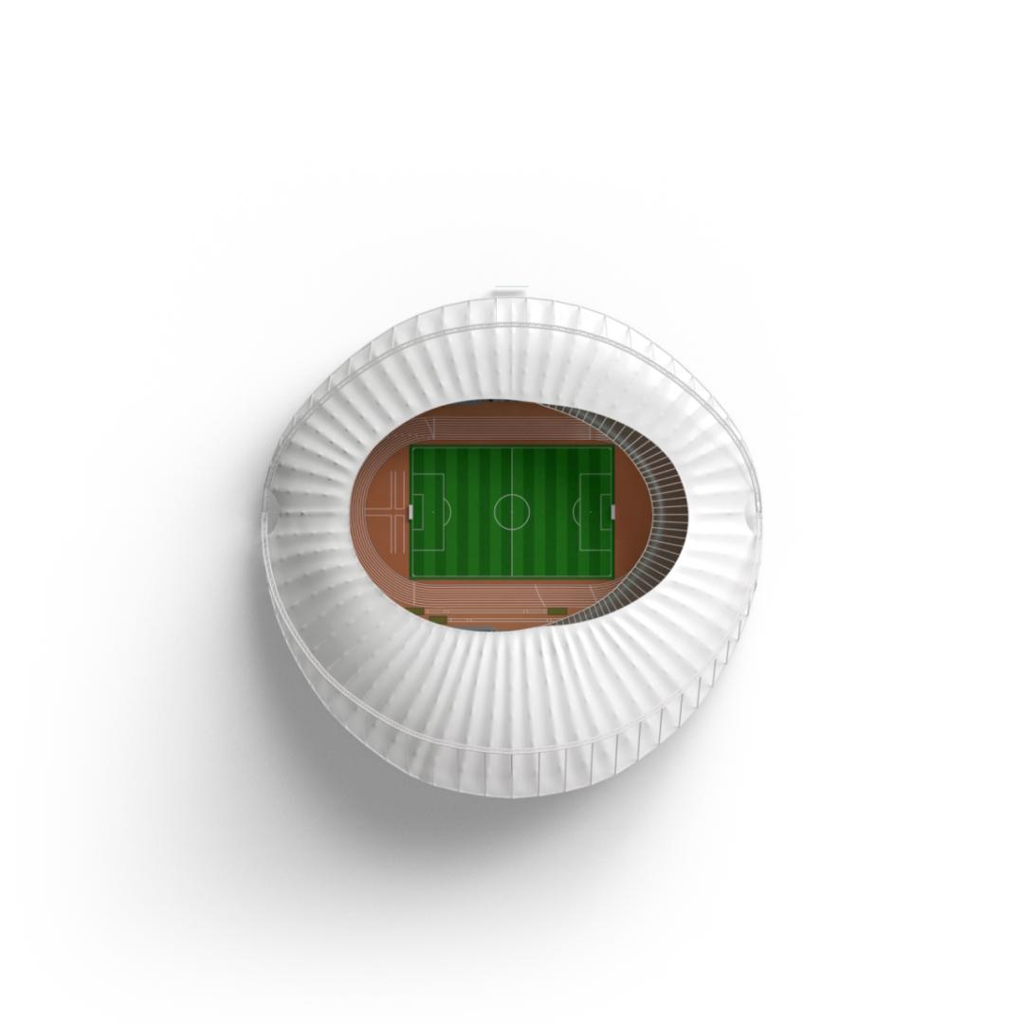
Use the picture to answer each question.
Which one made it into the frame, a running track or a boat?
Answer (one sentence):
Looking from above, you can make out a running track.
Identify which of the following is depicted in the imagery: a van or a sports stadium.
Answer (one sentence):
The one in the frame is a sports stadium.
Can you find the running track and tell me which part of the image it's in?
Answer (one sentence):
You can find the running track in the center area of the picture.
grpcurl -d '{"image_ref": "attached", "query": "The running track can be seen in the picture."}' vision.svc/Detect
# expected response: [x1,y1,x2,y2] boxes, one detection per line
[351,400,652,631]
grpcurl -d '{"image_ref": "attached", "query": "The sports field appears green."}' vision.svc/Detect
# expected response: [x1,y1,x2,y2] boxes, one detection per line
[409,445,615,580]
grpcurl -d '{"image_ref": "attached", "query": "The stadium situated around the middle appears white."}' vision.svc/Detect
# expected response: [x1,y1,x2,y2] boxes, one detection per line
[261,296,763,799]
